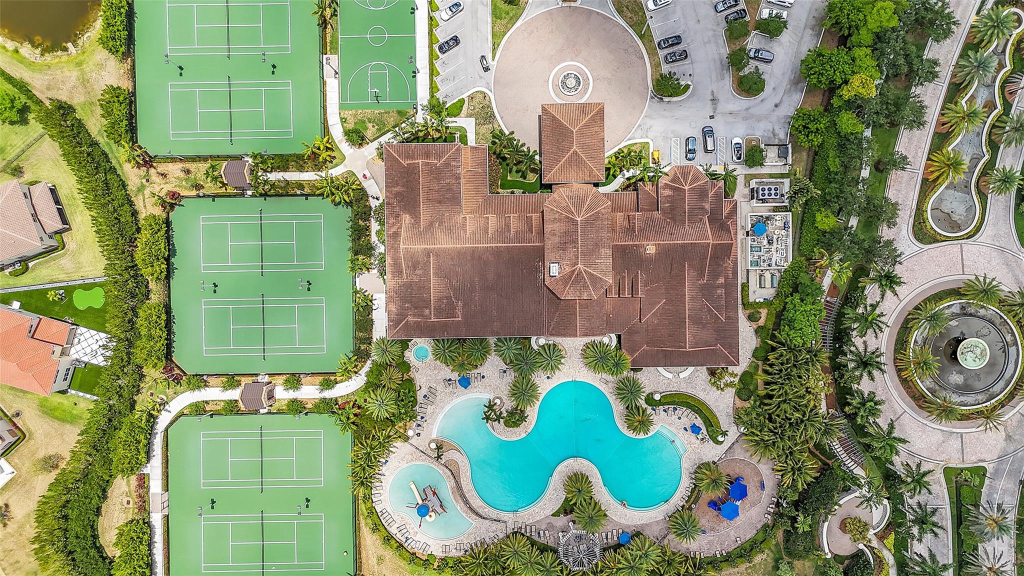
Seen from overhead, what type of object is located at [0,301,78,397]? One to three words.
house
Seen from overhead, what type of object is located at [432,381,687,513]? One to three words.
swimming pool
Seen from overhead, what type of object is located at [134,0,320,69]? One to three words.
tennis court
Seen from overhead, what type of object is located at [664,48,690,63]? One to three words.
car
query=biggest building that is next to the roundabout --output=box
[383,99,739,367]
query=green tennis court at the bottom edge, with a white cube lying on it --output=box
[169,499,355,576]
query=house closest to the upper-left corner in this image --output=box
[0,179,75,269]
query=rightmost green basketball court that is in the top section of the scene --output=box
[338,0,417,110]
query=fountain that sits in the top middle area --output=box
[559,70,583,95]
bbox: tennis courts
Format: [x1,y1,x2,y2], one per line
[171,197,353,285]
[135,66,324,157]
[134,0,320,69]
[168,414,353,502]
[169,499,355,576]
[172,283,354,375]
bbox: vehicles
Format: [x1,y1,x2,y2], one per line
[749,46,777,62]
[664,48,690,63]
[724,7,750,22]
[769,0,795,7]
[763,6,788,20]
[715,0,741,12]
[732,136,745,162]
[479,54,489,71]
[657,34,684,48]
[440,0,465,19]
[647,0,673,9]
[436,35,460,54]
[702,125,716,152]
[686,136,698,160]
